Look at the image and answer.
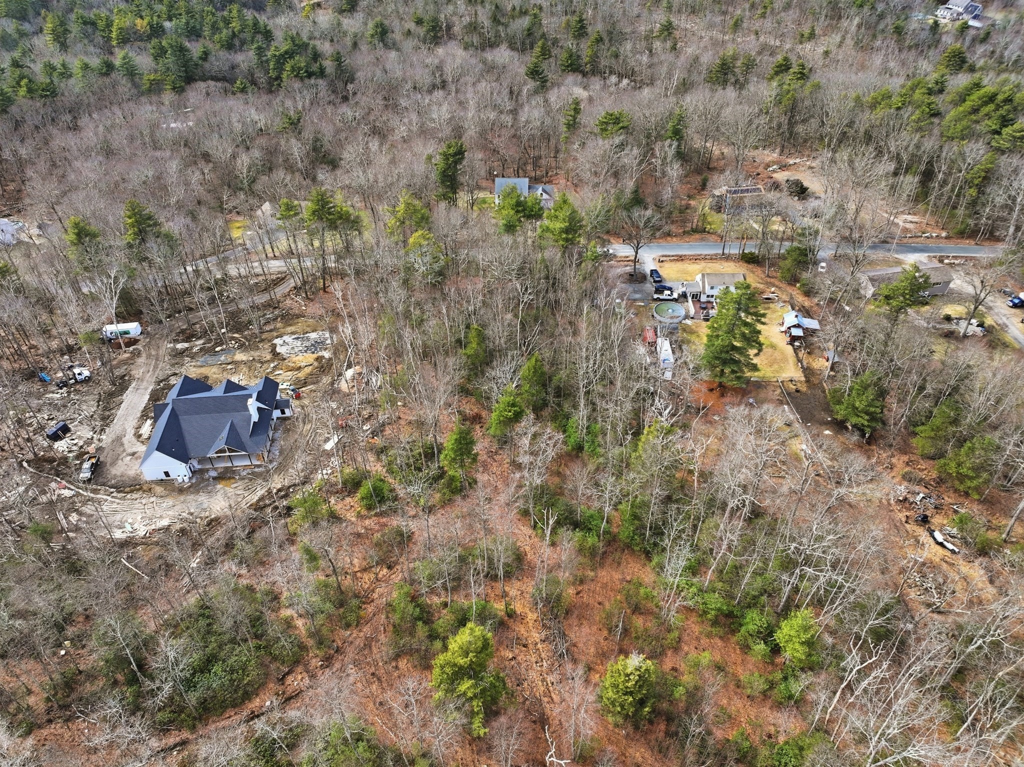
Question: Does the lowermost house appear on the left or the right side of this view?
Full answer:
The lowermost house appears in the left half of the scene.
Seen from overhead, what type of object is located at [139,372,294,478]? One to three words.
house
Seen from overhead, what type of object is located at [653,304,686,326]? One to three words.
swimming pool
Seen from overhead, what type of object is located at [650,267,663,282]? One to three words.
vehicle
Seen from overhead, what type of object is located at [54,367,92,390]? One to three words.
truck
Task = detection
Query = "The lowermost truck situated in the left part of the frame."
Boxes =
[74,450,103,477]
